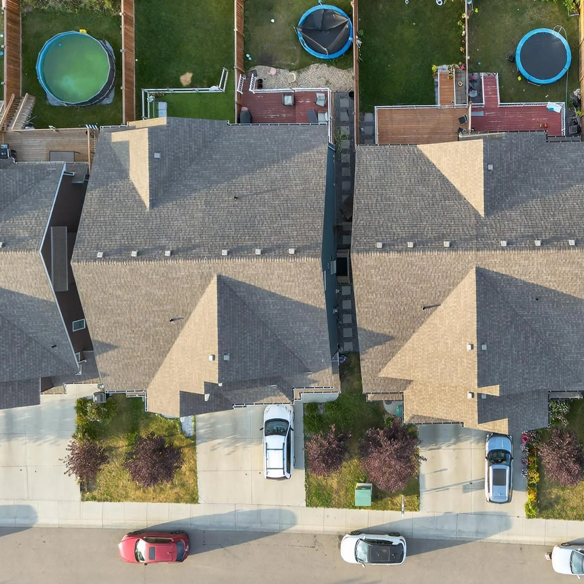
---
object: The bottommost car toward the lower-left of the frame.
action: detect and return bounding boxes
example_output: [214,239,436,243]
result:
[121,529,192,566]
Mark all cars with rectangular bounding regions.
[260,404,296,477]
[551,542,584,579]
[482,432,516,503]
[121,529,192,566]
[340,530,407,568]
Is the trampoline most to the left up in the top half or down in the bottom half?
top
